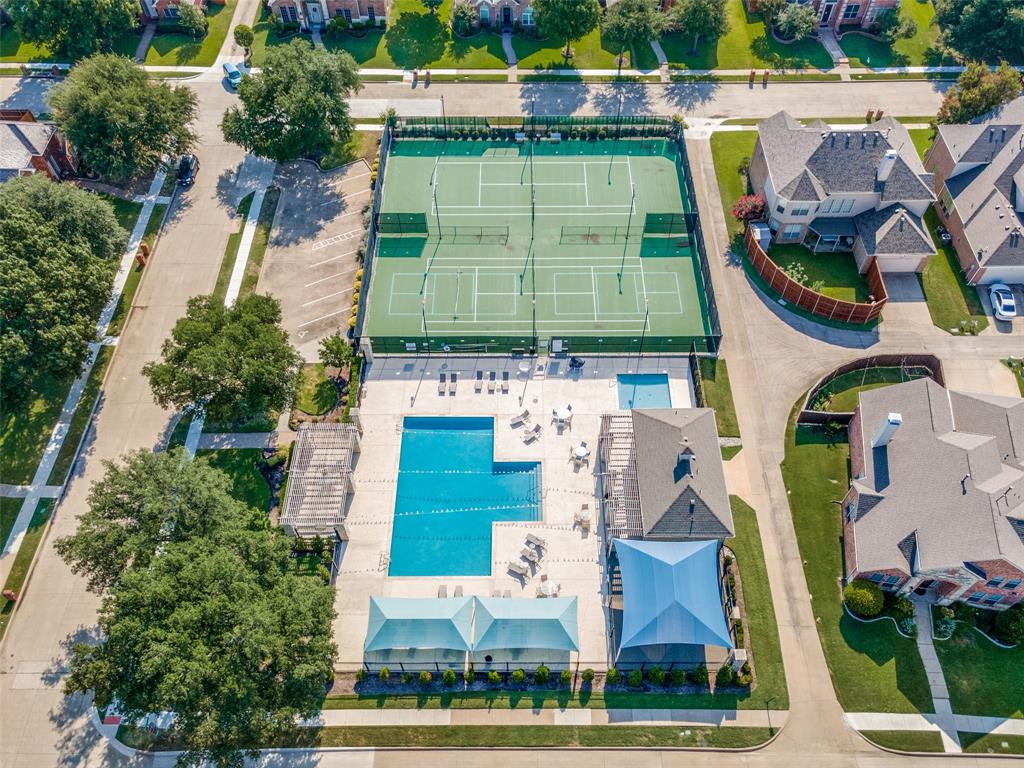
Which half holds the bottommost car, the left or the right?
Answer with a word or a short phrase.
right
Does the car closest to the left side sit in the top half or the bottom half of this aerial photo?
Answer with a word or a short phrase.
top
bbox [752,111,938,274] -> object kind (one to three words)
house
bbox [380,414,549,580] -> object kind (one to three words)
swimming pool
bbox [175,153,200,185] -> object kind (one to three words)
car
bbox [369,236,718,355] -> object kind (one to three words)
tennis court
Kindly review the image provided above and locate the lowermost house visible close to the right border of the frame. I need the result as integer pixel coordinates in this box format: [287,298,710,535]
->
[842,377,1024,616]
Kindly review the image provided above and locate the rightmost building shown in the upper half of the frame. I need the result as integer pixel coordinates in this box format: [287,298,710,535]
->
[924,95,1024,290]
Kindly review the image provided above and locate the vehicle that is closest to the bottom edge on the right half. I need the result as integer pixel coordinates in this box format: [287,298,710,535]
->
[986,285,1020,319]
